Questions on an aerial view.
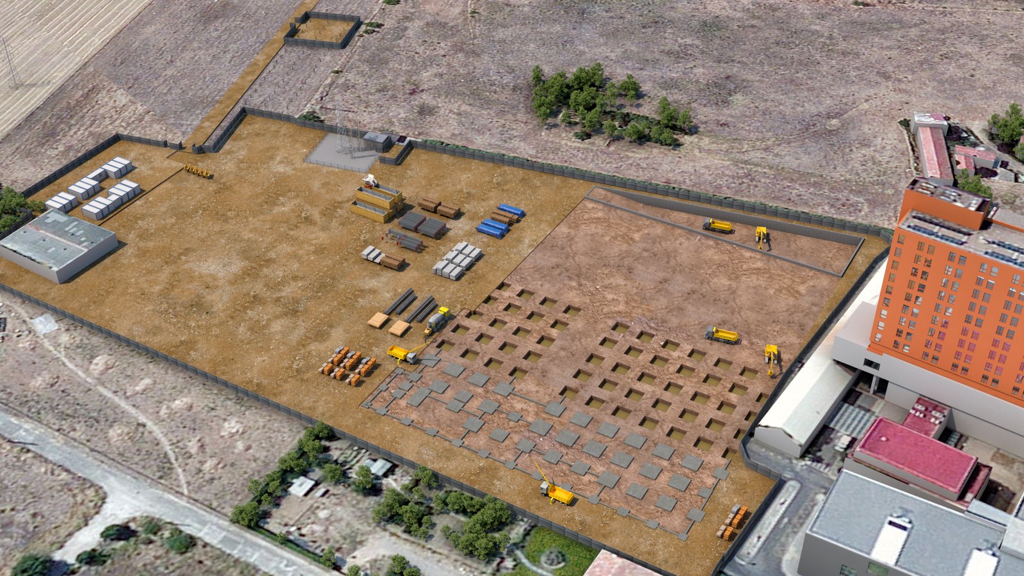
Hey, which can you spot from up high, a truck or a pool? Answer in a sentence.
Of the two, only a truck appears.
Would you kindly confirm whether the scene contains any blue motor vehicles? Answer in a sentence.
No, there appears to be no blue motor vehicle in this shot.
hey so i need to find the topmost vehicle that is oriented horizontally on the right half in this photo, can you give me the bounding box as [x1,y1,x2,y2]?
[704,218,736,236]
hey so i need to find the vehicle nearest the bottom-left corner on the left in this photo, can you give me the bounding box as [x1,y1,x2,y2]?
[388,345,429,368]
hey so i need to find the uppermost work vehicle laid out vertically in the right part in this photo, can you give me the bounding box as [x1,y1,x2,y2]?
[756,227,769,251]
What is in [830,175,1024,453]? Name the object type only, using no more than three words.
building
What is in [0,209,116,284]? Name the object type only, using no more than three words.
shed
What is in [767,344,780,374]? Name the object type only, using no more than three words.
vehicle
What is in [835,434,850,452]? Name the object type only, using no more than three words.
vehicle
